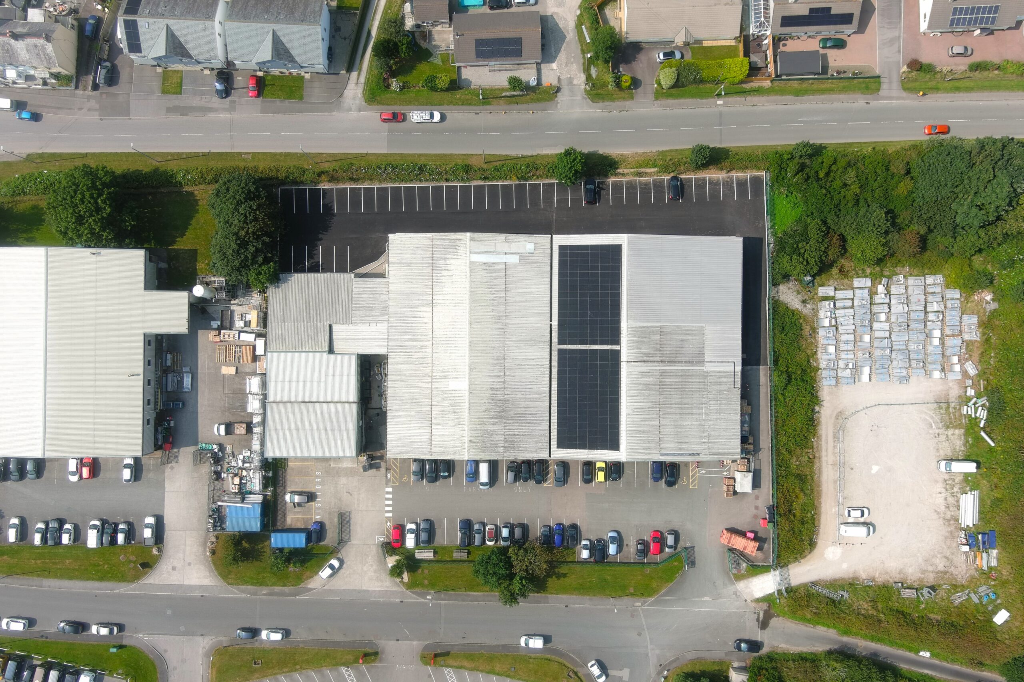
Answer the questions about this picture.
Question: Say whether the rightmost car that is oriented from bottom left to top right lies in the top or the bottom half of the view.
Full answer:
The rightmost car that is oriented from bottom left to top right sits in the bottom half of the picture.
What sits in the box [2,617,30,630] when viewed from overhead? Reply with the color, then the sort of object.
white vehicle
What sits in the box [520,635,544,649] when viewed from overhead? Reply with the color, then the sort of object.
white vehicle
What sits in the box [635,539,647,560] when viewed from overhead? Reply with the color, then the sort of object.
gray vehicle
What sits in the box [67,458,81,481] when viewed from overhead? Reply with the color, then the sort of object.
white car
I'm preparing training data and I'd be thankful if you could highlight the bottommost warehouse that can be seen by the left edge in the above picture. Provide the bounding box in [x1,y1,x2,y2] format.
[0,246,201,459]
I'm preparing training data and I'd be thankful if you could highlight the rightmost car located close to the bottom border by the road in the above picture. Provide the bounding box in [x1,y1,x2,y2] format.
[733,638,760,653]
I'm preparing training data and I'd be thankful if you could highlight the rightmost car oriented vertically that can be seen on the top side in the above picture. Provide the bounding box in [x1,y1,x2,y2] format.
[669,176,681,200]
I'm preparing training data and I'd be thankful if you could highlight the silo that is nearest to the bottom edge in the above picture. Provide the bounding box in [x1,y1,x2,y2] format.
[189,283,218,299]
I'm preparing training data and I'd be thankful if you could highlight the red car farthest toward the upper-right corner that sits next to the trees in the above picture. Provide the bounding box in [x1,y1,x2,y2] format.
[923,123,948,136]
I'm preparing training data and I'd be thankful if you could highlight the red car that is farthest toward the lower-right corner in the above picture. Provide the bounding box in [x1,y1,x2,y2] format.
[650,531,662,555]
